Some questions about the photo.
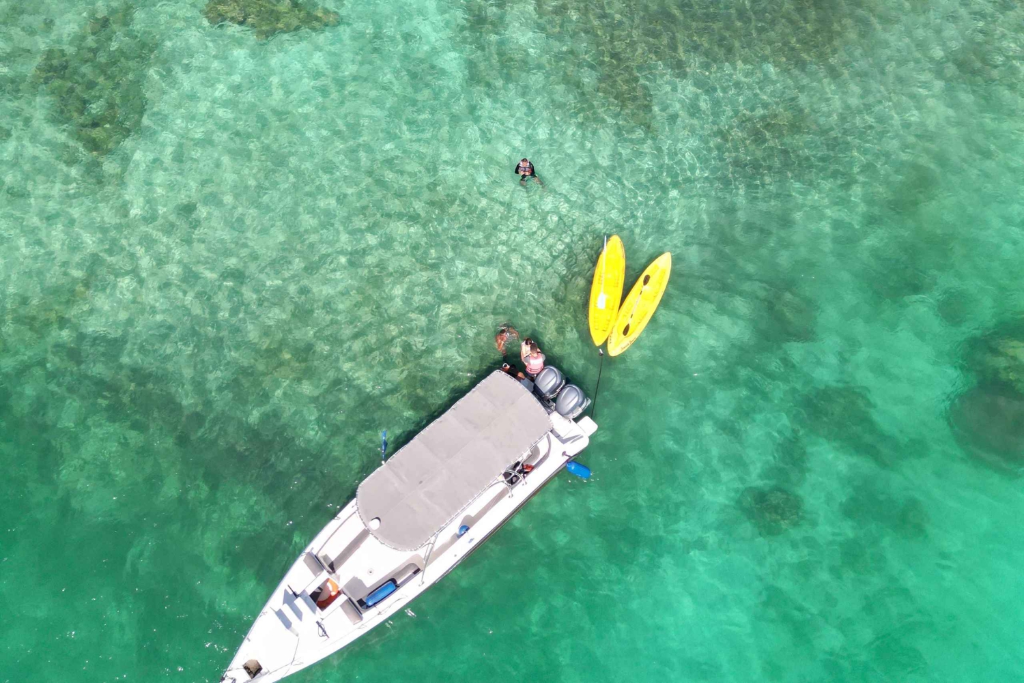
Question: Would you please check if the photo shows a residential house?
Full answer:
No, I can't see a single residential house in this photo.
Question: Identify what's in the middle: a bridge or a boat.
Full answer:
Visible in the middle is a boat.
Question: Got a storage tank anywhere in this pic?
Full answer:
No, there is no storage tank in the image.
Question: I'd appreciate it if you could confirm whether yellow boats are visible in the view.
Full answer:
Yes, you can see a yellow boat in this photo.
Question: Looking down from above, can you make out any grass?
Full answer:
No, there's no grass in this view.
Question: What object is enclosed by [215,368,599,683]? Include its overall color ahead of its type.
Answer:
white boat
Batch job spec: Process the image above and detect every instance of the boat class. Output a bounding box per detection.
[610,250,674,357]
[589,233,627,346]
[215,368,599,683]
